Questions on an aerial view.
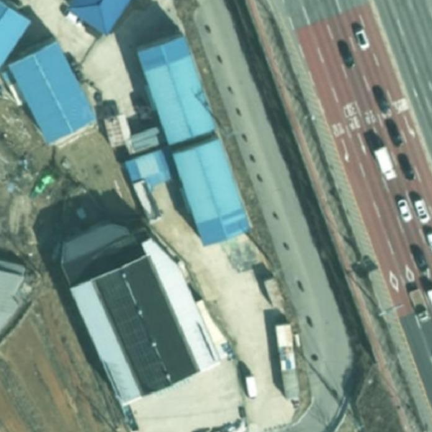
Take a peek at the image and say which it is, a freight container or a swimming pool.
freight container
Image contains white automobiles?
Yes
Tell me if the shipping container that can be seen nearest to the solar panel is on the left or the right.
left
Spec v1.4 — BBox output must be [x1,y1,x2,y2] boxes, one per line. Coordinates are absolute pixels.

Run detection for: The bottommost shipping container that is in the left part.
[136,183,163,223]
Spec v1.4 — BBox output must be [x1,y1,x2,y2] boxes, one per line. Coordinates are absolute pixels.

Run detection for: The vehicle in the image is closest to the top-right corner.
[354,23,371,52]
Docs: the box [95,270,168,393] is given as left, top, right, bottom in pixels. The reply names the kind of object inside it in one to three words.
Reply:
solar panel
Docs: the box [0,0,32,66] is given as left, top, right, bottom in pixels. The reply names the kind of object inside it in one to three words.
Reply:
shed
